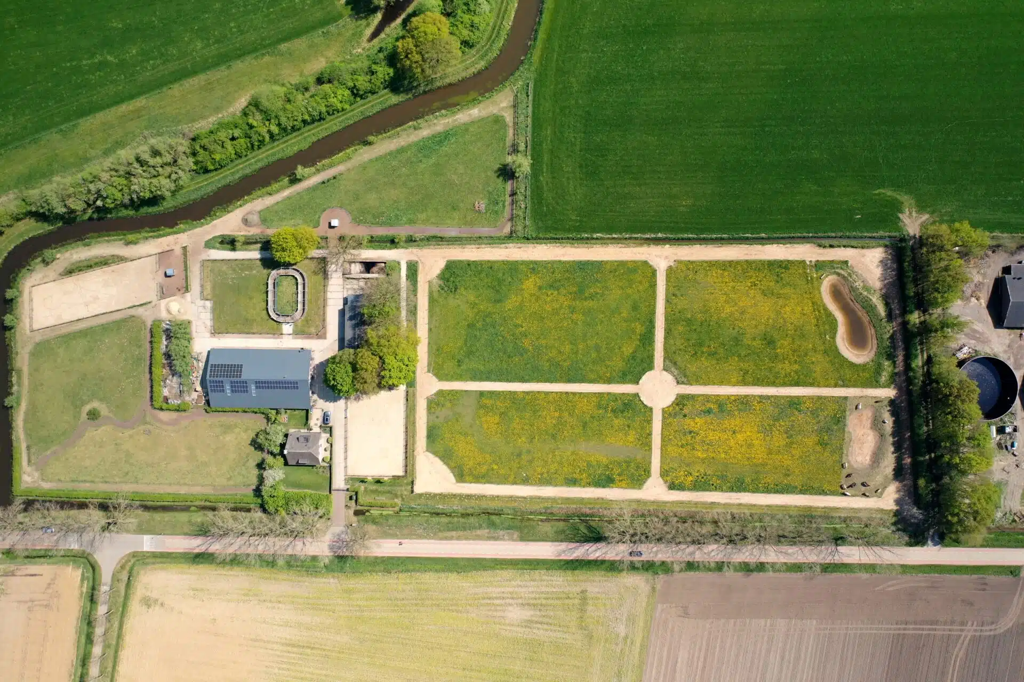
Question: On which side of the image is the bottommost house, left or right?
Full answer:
It is on the left.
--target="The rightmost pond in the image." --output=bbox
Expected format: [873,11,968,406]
[826,279,874,355]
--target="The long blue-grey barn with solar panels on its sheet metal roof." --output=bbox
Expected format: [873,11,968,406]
[207,348,313,409]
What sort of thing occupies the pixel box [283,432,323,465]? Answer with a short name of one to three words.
house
